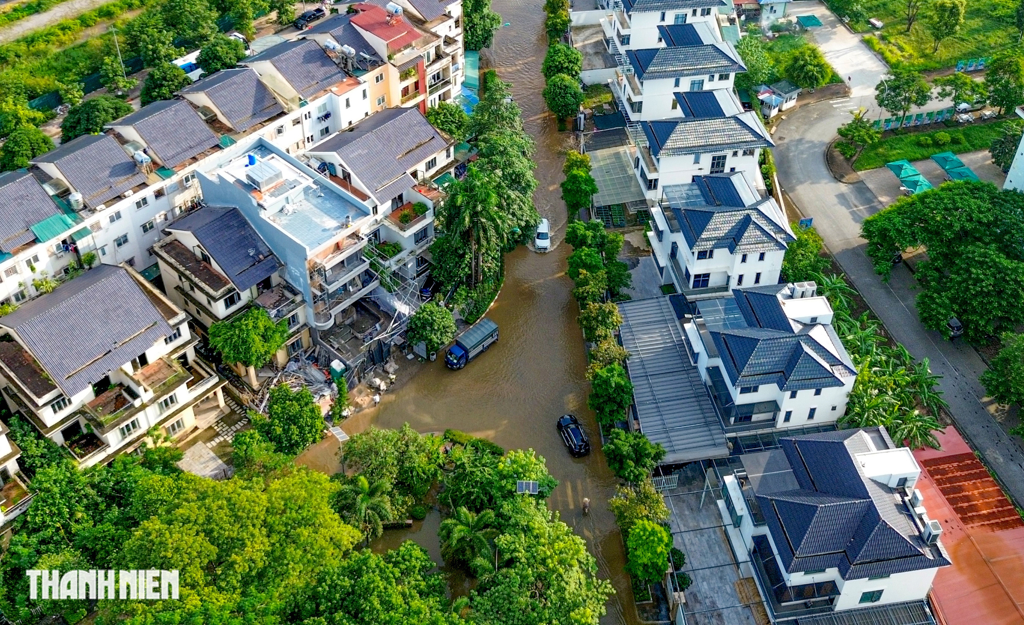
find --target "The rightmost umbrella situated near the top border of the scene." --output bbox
[793,15,826,36]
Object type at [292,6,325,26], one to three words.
vehicle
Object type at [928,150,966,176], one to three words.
umbrella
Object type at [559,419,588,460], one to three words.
car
